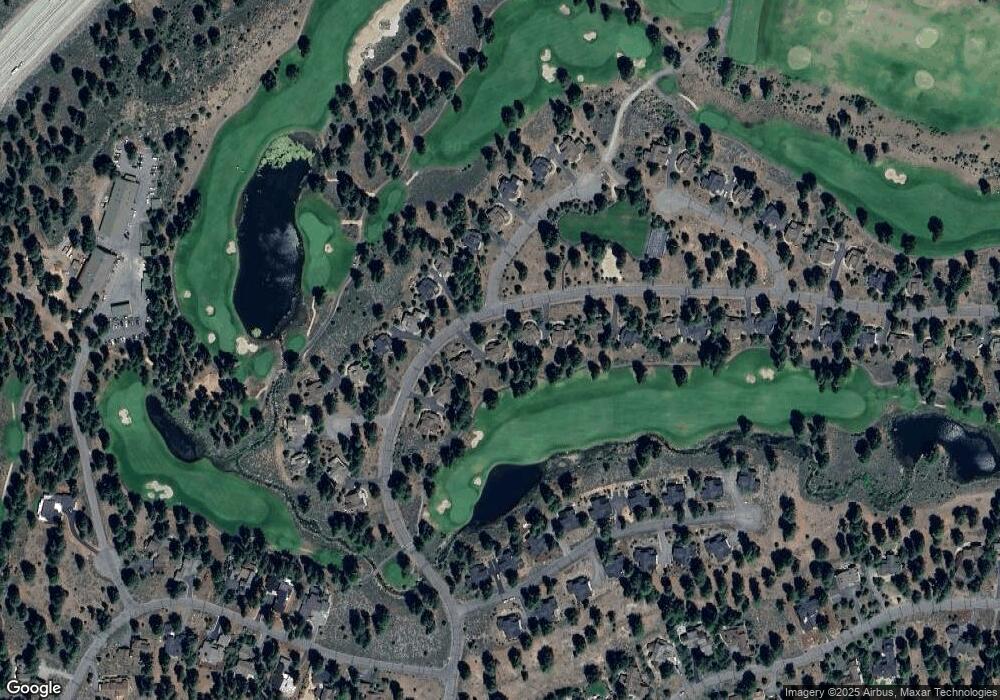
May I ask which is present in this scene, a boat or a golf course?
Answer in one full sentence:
I can see a golf course in this picture.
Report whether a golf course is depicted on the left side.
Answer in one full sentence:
Yes, a golf course is visible on the left side.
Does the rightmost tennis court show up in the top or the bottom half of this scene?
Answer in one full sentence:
You can find the rightmost tennis court in the top half.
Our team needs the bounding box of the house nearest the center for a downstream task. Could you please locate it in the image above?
[483,338,511,362]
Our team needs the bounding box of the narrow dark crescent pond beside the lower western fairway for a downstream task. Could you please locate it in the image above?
[146,393,205,462]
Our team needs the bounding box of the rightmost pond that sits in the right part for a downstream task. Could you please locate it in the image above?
[892,413,1000,483]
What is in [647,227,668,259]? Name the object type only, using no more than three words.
tennis court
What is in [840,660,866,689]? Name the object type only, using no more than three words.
house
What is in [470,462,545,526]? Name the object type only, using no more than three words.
pond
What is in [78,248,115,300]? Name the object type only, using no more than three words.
shed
